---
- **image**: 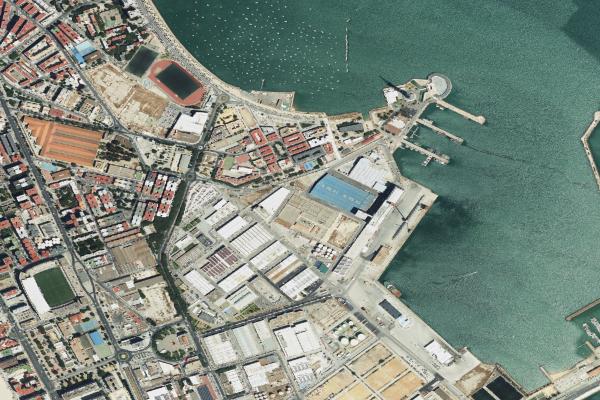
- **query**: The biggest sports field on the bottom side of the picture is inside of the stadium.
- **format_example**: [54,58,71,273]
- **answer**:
[34,268,75,307]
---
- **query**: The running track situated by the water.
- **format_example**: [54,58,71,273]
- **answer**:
[151,56,206,107]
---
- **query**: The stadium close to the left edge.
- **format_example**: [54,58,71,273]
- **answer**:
[20,261,79,315]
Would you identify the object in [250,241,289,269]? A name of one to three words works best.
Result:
building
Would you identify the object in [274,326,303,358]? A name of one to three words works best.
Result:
building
